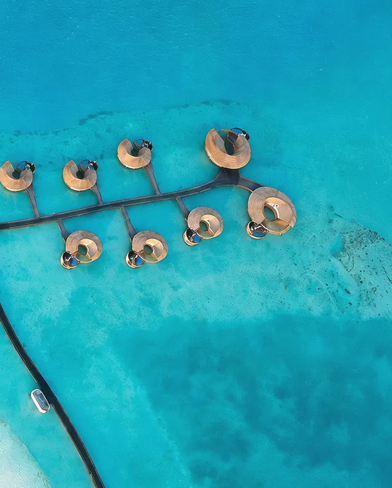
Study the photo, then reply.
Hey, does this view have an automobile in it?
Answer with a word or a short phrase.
No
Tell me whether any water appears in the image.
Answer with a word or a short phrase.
Yes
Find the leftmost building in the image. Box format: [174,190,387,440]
[0,161,34,193]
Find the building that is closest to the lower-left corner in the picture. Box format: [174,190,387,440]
[62,232,102,269]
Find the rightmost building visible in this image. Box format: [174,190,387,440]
[245,189,298,239]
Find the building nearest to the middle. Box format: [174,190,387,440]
[182,209,224,246]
